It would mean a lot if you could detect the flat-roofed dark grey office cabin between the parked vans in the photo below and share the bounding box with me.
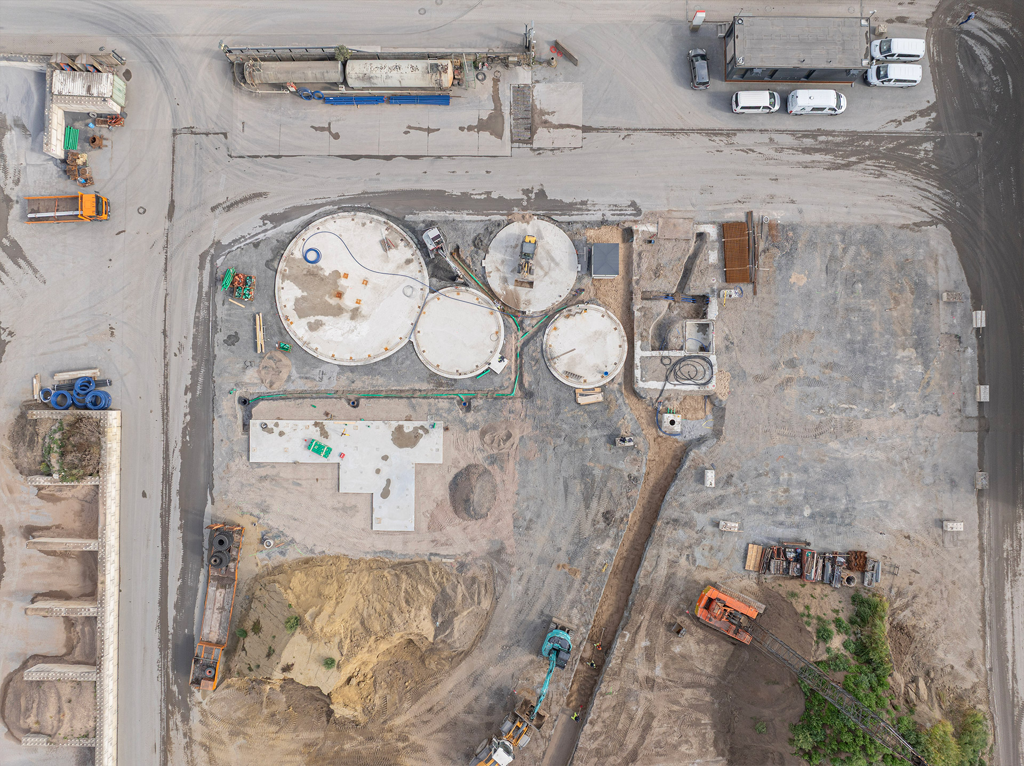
[724,8,881,85]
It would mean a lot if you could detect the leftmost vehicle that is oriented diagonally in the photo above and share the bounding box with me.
[414,224,463,276]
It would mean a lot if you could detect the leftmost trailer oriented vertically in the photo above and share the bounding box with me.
[185,524,239,696]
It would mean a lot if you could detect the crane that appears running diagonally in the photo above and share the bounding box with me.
[694,582,947,766]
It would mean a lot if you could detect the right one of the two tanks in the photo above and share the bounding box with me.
[344,54,453,97]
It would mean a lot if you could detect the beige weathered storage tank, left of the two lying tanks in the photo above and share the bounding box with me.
[239,53,345,90]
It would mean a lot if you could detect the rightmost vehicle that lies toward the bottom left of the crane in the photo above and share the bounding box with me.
[527,619,574,721]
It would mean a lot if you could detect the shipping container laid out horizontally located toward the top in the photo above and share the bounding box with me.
[51,70,128,110]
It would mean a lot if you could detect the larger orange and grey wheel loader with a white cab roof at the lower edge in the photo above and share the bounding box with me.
[473,693,544,766]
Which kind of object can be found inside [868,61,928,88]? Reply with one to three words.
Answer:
vehicle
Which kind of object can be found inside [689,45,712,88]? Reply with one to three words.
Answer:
car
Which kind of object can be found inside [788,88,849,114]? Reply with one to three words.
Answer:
vehicle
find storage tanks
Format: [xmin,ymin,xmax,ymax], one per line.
[344,54,453,97]
[239,53,345,90]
